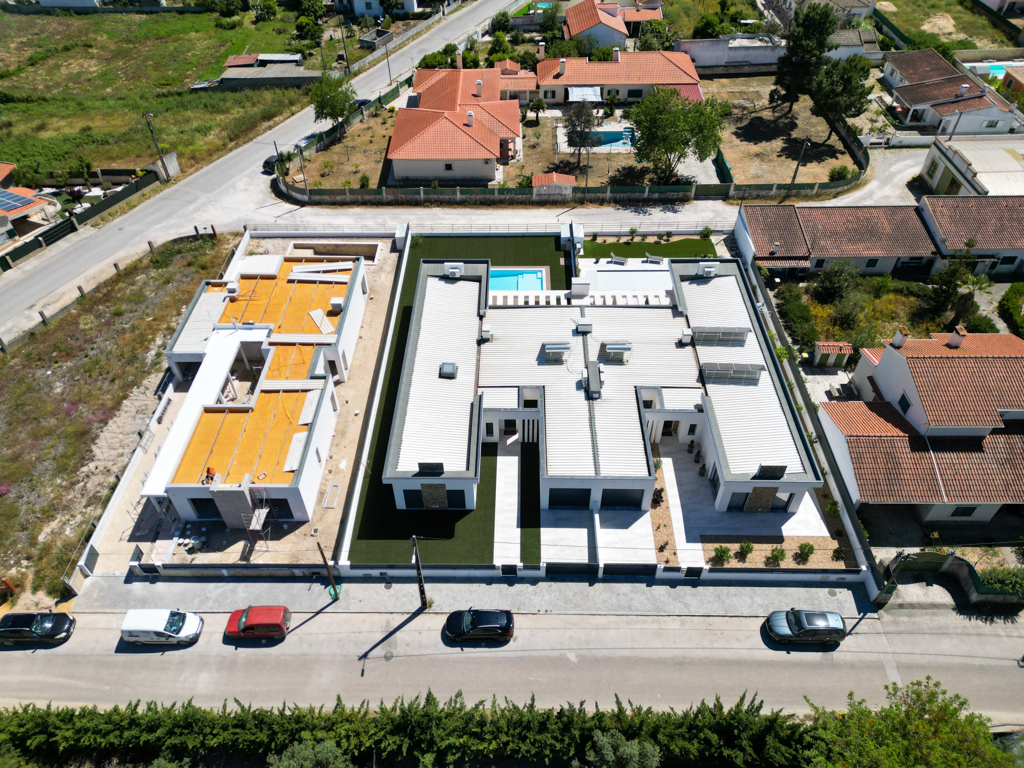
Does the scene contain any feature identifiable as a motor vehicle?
Yes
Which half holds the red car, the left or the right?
left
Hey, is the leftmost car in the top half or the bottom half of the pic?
bottom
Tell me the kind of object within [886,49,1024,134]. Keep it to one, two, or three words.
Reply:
house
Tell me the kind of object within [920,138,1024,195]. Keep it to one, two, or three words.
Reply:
barn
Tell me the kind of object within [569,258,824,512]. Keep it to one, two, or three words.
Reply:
house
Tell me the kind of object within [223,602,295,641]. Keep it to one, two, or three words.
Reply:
car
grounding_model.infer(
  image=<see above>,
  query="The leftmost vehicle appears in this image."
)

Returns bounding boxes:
[0,605,78,644]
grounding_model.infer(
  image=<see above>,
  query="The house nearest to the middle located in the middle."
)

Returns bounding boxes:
[382,258,601,510]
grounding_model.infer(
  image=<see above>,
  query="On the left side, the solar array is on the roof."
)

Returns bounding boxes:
[0,188,35,211]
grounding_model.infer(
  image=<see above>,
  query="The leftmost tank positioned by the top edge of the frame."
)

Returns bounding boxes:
[357,26,394,49]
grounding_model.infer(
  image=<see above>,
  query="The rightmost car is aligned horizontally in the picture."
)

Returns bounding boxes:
[763,613,855,655]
